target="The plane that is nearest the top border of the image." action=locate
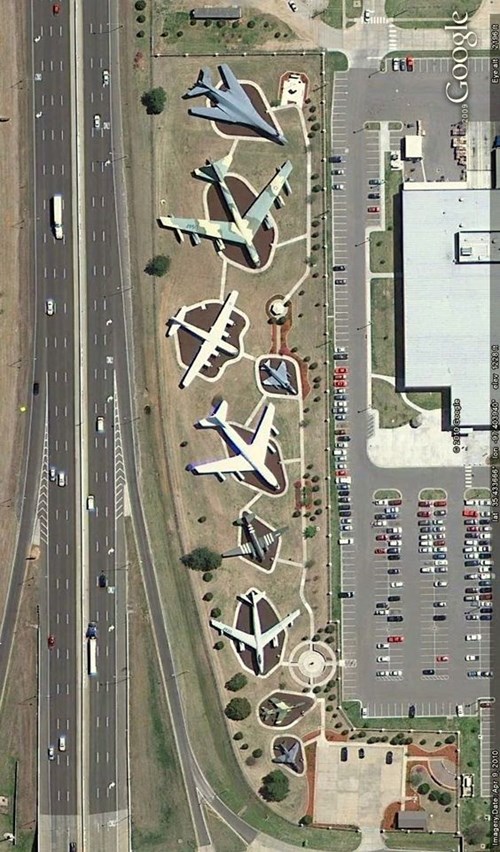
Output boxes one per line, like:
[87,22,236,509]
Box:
[186,65,287,141]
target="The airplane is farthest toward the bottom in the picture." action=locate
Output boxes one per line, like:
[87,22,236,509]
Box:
[274,739,300,772]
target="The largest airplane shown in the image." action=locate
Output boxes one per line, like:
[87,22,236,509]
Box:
[161,153,292,266]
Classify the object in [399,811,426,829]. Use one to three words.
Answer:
shed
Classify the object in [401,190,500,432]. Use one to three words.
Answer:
building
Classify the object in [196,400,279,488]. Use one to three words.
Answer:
airplane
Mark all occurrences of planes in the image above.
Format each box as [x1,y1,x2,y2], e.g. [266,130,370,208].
[161,153,292,266]
[211,589,299,672]
[170,288,240,387]
[186,65,287,141]
[196,400,279,488]
[274,739,300,772]
[220,515,289,562]
[260,698,305,724]
[255,359,296,393]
